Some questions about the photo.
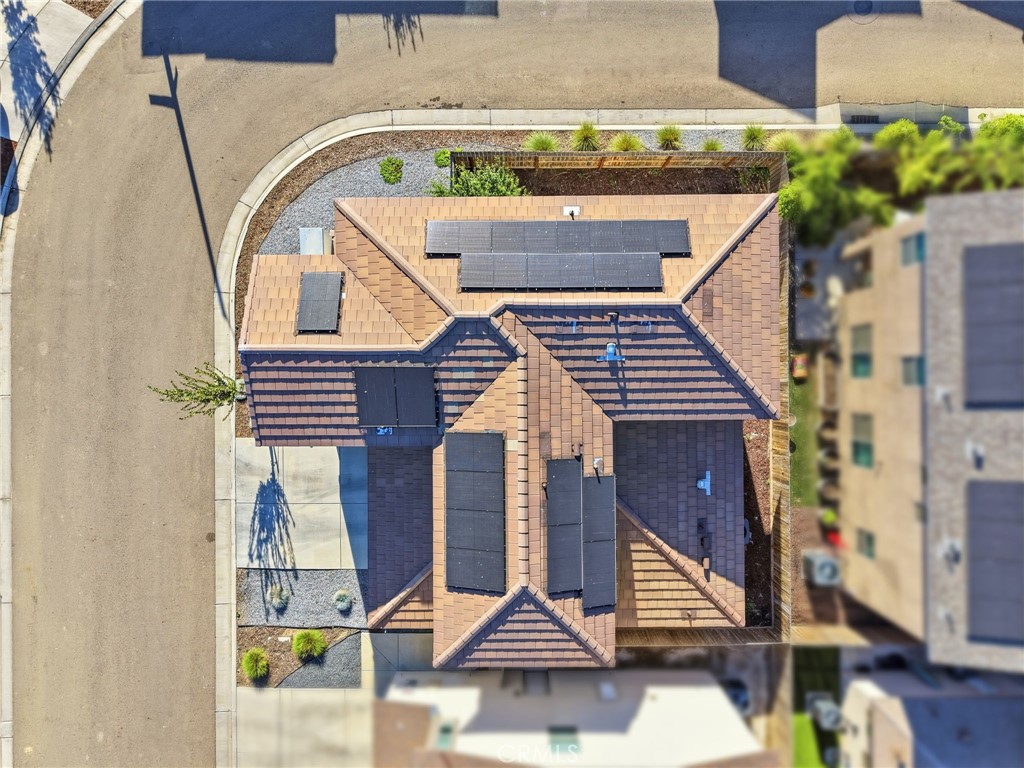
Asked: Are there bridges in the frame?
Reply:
No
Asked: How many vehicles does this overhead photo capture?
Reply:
0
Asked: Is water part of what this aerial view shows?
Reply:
No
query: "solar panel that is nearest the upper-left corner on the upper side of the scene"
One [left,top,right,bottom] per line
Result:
[295,273,344,331]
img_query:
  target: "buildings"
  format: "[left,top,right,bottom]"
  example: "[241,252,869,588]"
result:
[812,189,1024,673]
[239,193,782,671]
[371,673,768,768]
